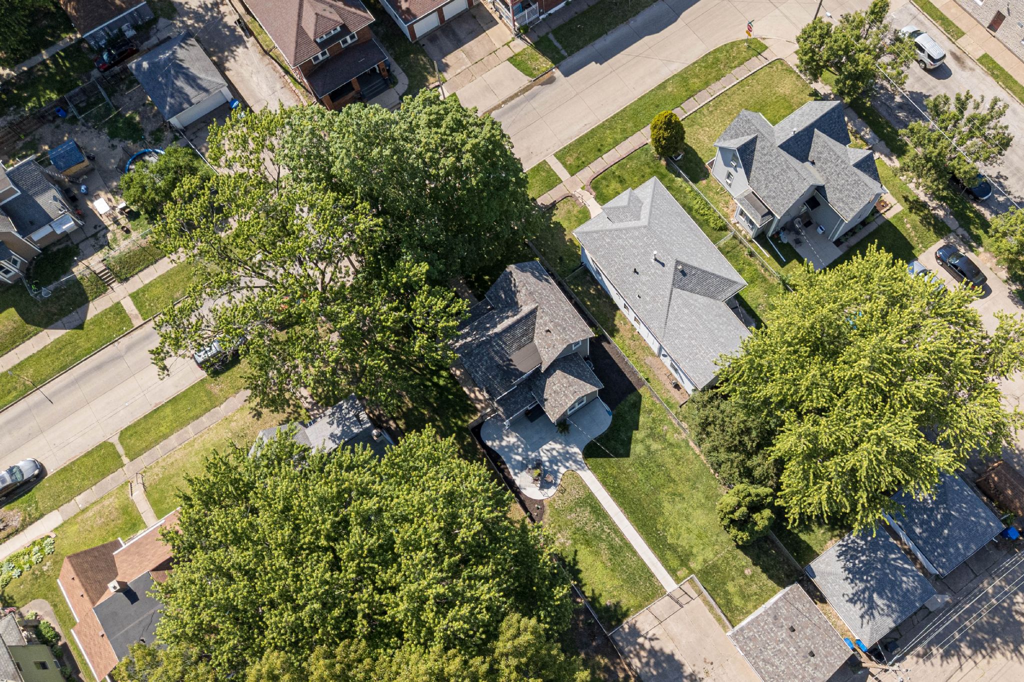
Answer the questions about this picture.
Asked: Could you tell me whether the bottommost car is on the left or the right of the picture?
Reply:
left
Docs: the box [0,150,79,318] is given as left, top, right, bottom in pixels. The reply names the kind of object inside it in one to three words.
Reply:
house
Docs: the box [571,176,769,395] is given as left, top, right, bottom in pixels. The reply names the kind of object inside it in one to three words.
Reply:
house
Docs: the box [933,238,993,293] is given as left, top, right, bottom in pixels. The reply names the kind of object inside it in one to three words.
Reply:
car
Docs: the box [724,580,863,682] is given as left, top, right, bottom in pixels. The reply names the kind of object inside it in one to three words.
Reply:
building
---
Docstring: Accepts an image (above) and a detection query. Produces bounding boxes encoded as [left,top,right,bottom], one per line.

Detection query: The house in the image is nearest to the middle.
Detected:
[441,260,608,428]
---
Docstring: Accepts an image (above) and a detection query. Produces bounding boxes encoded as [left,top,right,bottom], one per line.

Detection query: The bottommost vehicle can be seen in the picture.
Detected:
[0,457,45,505]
